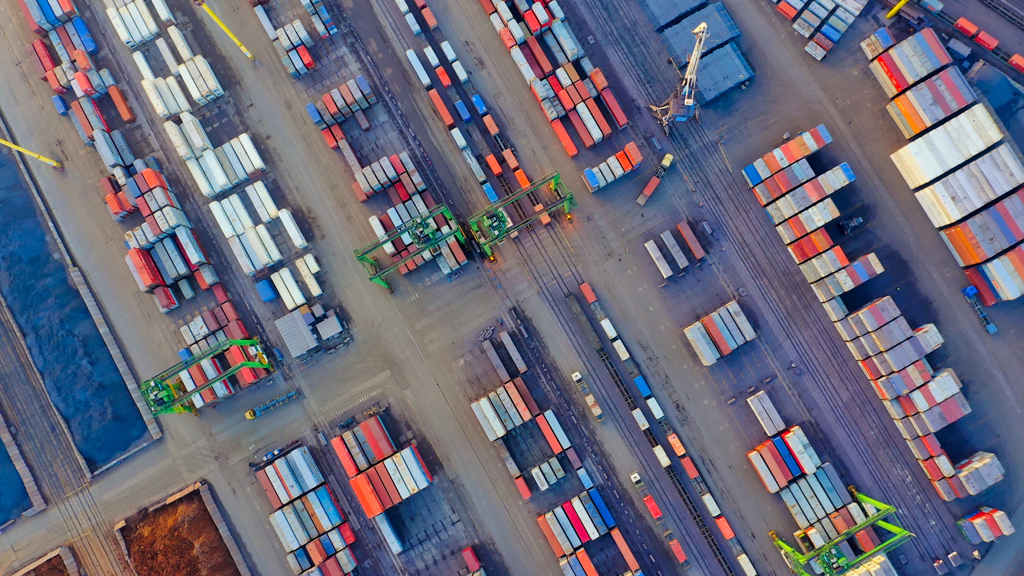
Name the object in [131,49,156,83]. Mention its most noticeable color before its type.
white shipping container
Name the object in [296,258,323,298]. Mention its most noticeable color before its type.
white shipping container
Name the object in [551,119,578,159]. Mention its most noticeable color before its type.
red shipping container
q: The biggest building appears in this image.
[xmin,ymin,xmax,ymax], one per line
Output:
[275,309,320,358]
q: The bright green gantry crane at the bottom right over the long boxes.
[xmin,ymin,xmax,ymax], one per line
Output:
[771,483,914,576]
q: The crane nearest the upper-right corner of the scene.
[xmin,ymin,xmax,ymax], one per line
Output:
[644,21,710,140]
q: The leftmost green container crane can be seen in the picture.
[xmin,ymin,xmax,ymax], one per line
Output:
[137,330,278,419]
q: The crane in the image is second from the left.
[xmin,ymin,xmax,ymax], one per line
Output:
[353,199,473,296]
